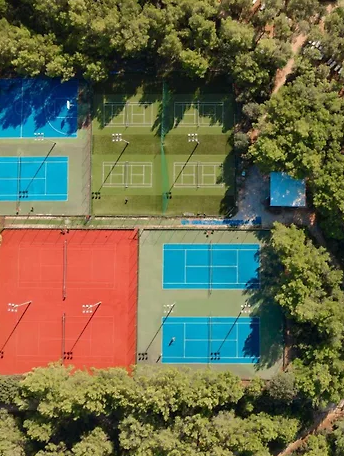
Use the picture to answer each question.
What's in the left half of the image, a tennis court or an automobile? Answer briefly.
tennis court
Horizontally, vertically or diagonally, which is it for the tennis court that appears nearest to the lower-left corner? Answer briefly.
horizontally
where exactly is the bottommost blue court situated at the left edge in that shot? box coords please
[0,153,68,204]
